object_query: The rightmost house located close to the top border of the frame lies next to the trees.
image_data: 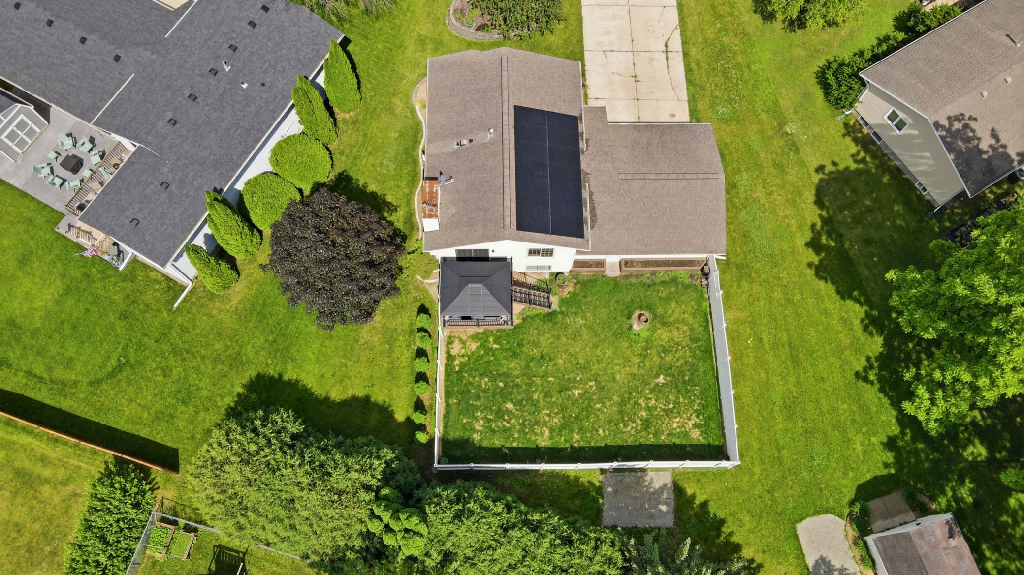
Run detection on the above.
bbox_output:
[850,0,1024,223]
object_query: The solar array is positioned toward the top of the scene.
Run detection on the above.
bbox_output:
[514,106,582,239]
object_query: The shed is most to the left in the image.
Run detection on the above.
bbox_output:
[0,85,49,162]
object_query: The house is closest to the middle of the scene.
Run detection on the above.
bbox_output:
[421,48,726,272]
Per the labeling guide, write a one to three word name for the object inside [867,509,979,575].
shed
